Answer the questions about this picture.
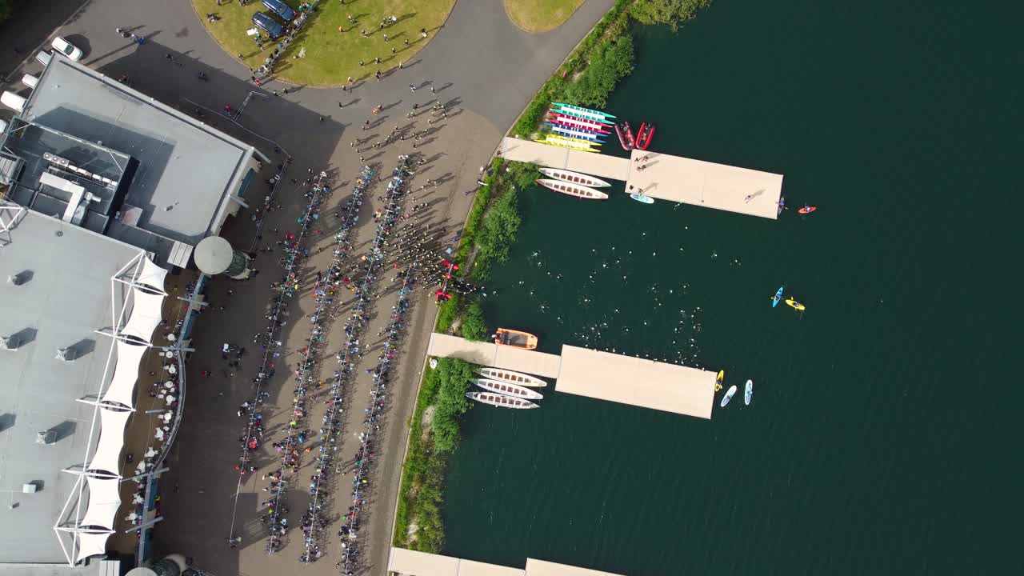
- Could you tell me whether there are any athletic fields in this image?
No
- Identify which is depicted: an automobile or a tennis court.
automobile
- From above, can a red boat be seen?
Yes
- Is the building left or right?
left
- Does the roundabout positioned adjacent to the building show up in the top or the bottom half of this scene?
top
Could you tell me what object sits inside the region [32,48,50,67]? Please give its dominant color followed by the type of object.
white car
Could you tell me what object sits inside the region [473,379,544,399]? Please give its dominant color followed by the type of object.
white boat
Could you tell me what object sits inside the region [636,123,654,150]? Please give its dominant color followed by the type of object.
red boat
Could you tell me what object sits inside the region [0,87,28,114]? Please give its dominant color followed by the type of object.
white car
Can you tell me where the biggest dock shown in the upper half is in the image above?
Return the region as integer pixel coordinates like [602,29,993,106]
[498,135,784,219]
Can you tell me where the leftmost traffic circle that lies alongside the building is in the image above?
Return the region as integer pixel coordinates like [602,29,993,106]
[190,0,457,88]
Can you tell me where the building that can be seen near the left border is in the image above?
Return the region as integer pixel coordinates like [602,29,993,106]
[0,47,279,576]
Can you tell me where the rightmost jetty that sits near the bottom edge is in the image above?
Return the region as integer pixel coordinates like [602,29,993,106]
[387,547,632,576]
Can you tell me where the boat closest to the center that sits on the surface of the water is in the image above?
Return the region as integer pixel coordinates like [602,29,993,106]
[492,329,539,348]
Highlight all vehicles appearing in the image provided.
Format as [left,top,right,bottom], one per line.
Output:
[259,0,297,22]
[32,48,50,67]
[0,87,28,114]
[48,34,86,62]
[248,7,286,40]
[18,71,39,90]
